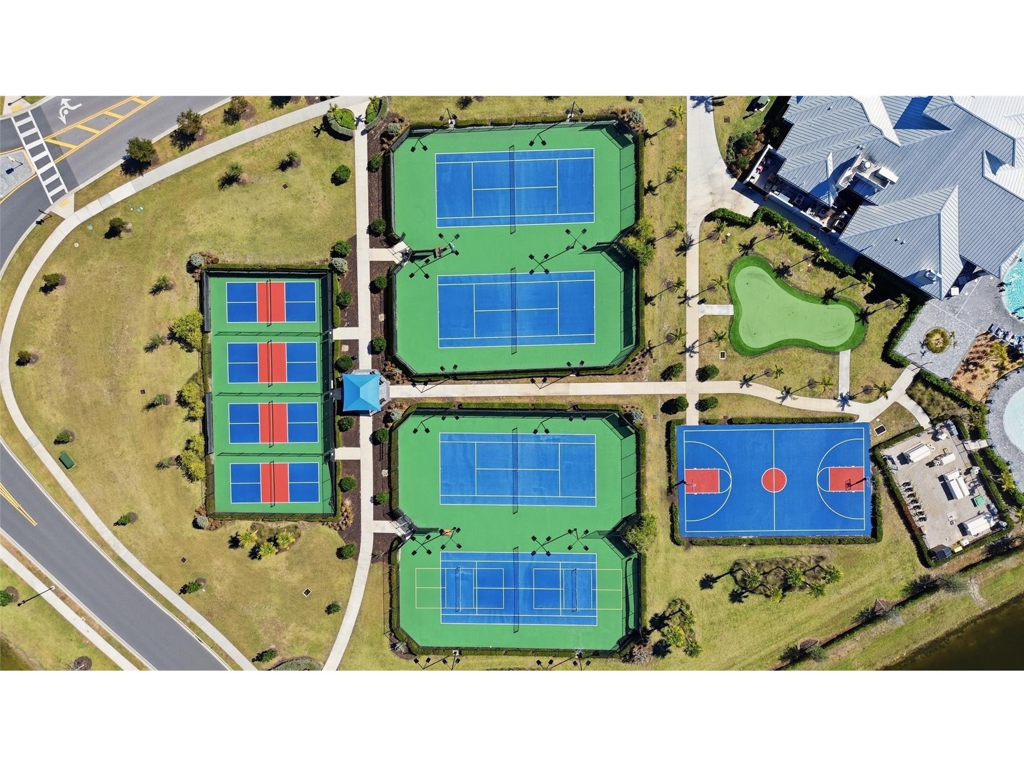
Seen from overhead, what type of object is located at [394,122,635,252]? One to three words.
tennis court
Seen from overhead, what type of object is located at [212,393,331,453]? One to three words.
sports court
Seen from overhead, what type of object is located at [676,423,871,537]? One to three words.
basketball court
